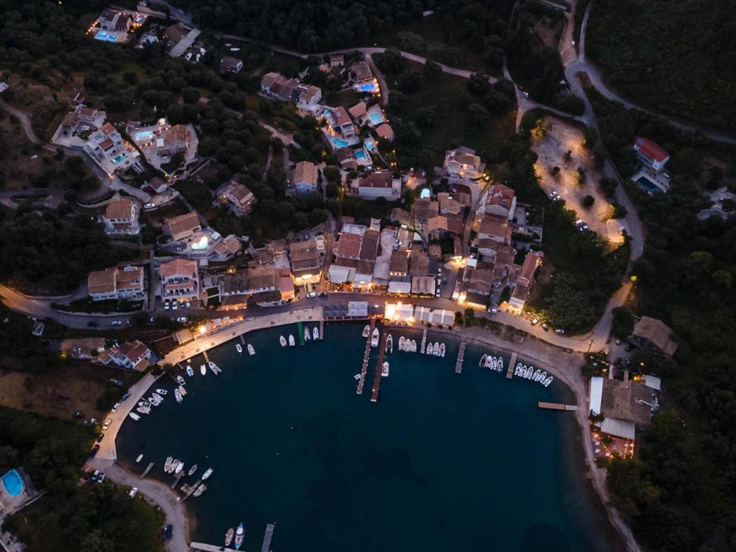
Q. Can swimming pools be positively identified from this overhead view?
Yes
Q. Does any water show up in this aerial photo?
Yes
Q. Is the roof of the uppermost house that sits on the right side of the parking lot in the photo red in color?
Yes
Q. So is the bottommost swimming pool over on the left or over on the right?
left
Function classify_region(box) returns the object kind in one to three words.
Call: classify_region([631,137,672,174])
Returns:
house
